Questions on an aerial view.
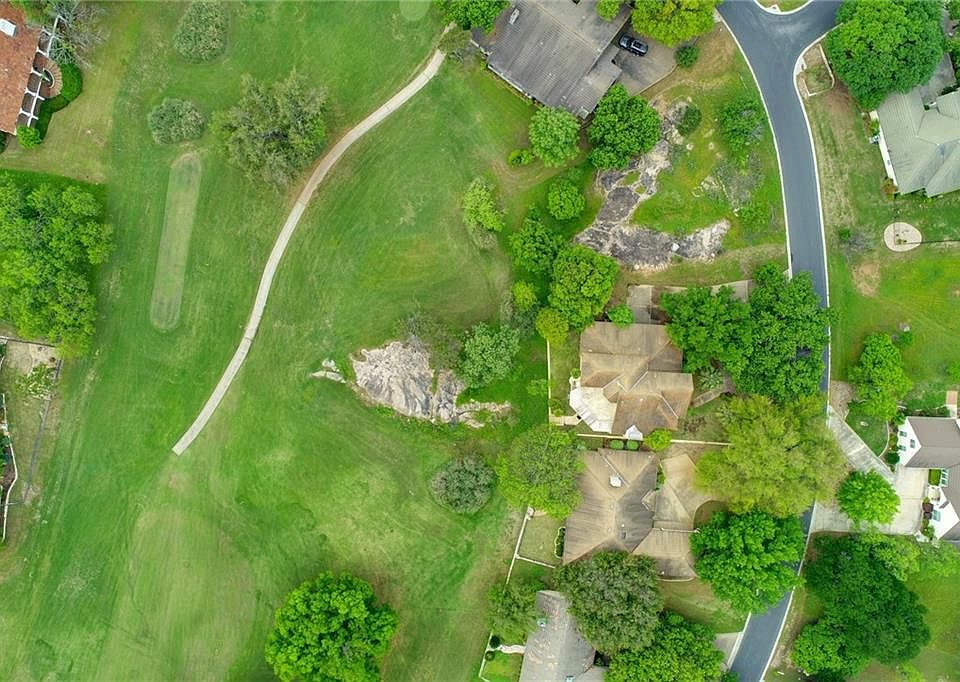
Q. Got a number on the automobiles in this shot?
1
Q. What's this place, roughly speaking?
golf course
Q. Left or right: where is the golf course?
left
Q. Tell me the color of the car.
black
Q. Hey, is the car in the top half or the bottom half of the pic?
top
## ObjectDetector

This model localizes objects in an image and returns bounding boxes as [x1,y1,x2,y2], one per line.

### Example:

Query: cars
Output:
[619,33,650,53]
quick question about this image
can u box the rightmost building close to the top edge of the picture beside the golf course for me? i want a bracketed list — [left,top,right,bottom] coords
[469,0,638,119]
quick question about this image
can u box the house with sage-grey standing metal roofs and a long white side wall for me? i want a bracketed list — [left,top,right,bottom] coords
[865,84,960,197]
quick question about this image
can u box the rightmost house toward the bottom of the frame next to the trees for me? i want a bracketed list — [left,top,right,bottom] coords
[897,416,960,542]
